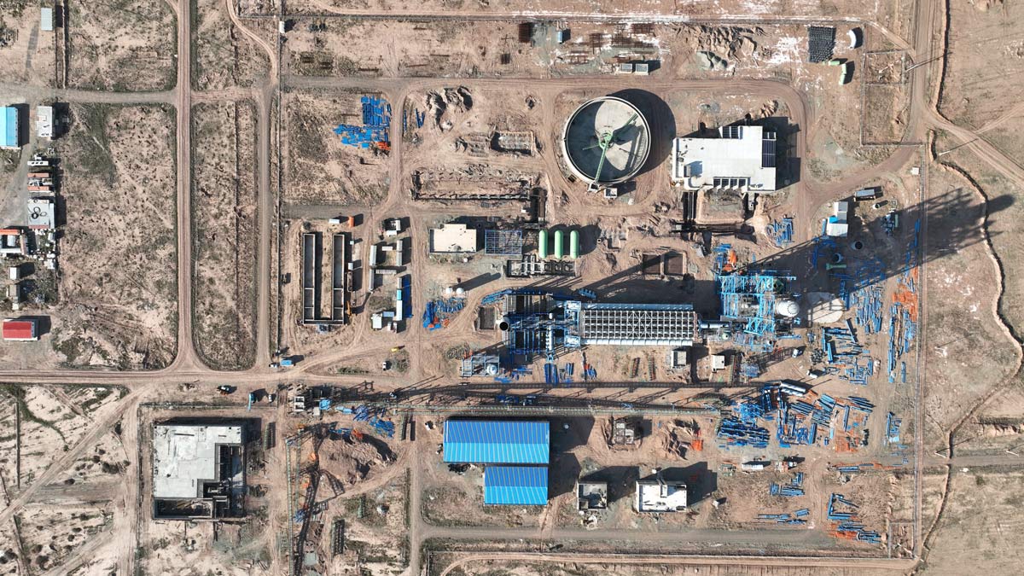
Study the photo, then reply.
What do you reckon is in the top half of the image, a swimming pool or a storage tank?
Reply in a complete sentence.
You can see a storage tank in the top half of the image.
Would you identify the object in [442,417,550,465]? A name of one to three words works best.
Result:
building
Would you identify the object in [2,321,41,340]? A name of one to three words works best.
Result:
house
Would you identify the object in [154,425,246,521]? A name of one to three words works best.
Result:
building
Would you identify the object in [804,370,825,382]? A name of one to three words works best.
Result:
vehicle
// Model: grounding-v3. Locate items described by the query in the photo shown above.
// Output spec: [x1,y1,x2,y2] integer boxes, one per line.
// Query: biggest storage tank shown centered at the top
[560,95,651,192]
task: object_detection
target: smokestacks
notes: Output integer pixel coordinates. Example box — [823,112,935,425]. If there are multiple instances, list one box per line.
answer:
[496,312,512,330]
